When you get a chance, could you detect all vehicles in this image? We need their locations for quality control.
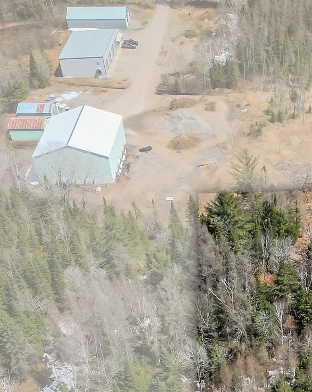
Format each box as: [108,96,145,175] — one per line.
[122,42,135,49]
[127,39,138,45]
